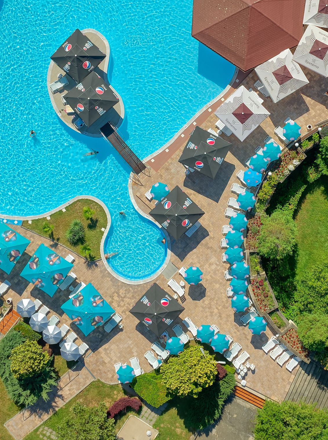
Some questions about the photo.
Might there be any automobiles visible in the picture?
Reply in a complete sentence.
No, there's no automobile here.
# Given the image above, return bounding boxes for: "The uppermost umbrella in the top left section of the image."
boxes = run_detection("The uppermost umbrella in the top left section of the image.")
[50,28,106,83]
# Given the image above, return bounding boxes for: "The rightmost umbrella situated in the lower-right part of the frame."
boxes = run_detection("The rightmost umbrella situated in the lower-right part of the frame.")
[248,317,267,335]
